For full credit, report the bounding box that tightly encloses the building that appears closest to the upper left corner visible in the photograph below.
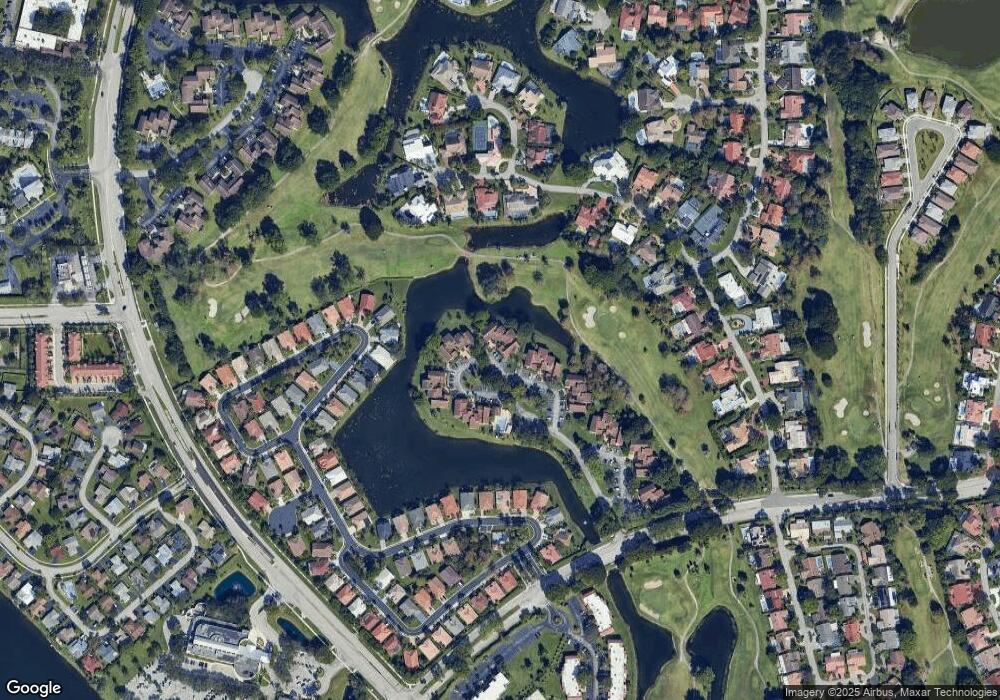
[15,0,89,57]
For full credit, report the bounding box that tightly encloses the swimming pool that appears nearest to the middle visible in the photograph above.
[495,409,510,433]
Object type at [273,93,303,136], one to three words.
building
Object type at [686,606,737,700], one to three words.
pond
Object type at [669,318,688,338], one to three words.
swimming pool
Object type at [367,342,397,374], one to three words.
house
